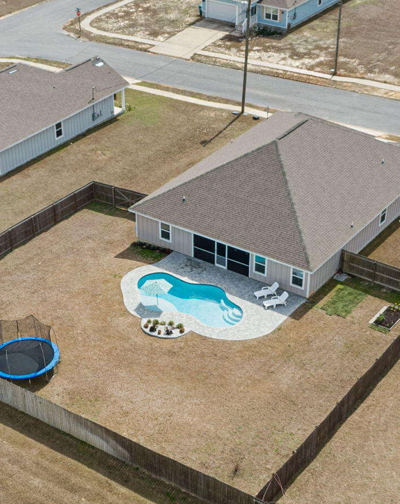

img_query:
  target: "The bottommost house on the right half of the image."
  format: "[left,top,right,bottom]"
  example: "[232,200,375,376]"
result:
[128,111,400,299]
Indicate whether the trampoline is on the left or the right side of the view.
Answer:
left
